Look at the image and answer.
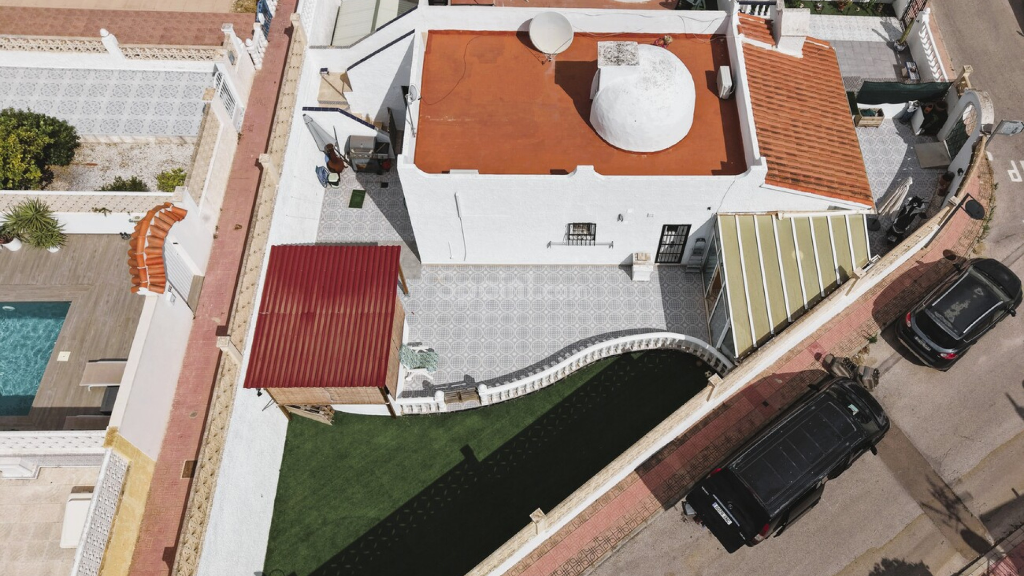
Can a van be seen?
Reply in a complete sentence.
Yes, you can see a van in this photo.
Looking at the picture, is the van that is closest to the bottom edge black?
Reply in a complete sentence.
Yes, the van that is closest to the bottom edge is indeed black.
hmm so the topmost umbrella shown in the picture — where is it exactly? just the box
[305,115,357,176]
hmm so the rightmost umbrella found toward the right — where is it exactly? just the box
[867,184,904,234]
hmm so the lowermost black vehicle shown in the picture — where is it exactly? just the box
[686,386,893,545]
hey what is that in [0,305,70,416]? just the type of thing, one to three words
swimming pool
